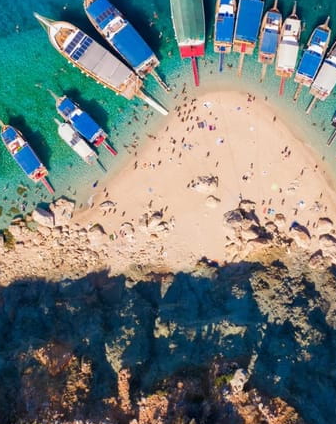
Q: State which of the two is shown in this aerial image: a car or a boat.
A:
boat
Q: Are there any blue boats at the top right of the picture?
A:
Yes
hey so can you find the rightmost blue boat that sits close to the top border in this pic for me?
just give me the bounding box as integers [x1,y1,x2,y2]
[294,16,331,101]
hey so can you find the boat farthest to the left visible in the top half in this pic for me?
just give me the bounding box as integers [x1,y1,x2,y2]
[0,120,55,194]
